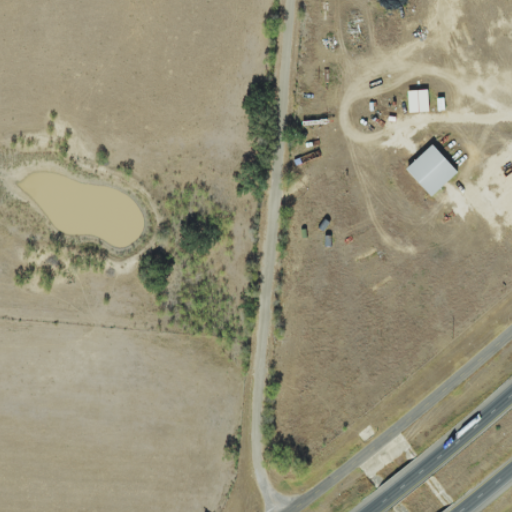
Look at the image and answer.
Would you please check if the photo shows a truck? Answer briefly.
Yes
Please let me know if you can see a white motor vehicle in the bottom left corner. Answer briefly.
No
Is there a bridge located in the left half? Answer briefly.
No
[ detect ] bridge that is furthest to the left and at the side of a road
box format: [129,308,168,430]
[379,458,432,508]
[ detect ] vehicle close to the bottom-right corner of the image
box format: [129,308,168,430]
[444,416,483,449]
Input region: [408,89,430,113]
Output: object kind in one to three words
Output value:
barn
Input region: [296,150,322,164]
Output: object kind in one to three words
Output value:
vehicle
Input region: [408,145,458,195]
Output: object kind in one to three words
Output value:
shed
